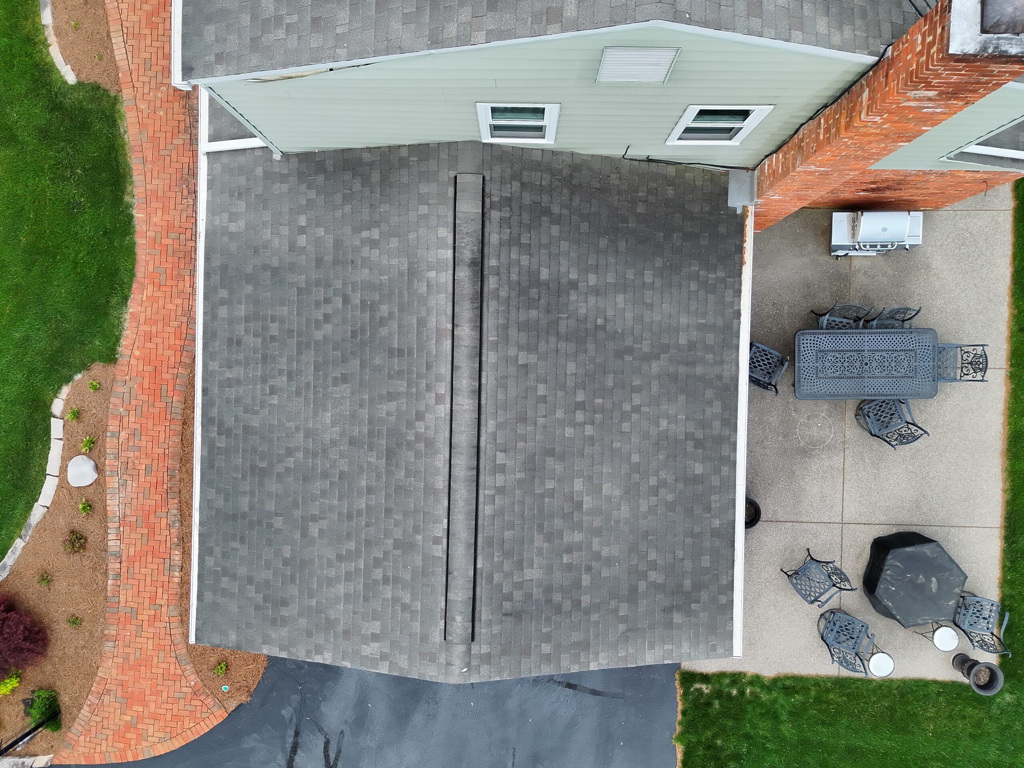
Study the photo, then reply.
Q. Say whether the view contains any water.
No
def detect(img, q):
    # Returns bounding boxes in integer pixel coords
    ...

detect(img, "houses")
[171,0,1024,686]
